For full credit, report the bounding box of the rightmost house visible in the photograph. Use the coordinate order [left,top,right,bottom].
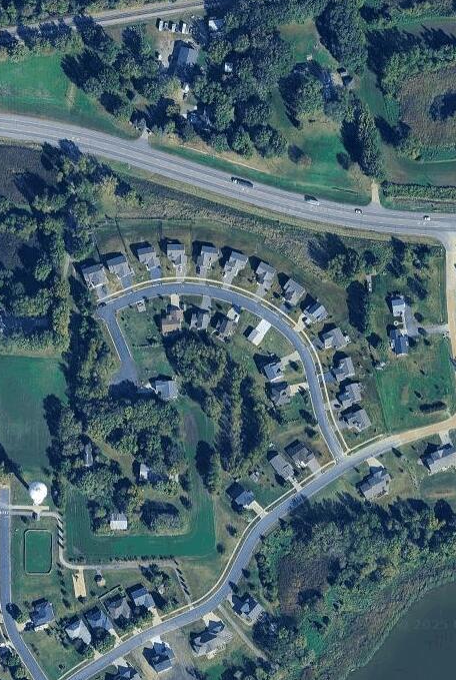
[424,446,456,473]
